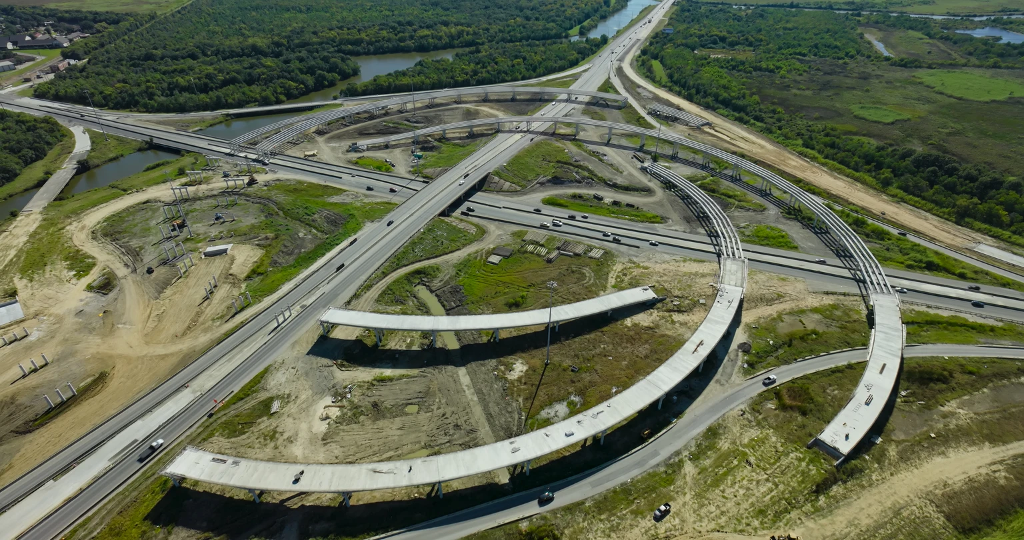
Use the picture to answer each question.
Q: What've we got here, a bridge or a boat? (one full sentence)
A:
Looking from above, you can make out a bridge.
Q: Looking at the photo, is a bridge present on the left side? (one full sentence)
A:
Yes, looking on the left side, one can make out a bridge.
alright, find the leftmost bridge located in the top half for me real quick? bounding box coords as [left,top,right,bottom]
[15,165,79,218]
